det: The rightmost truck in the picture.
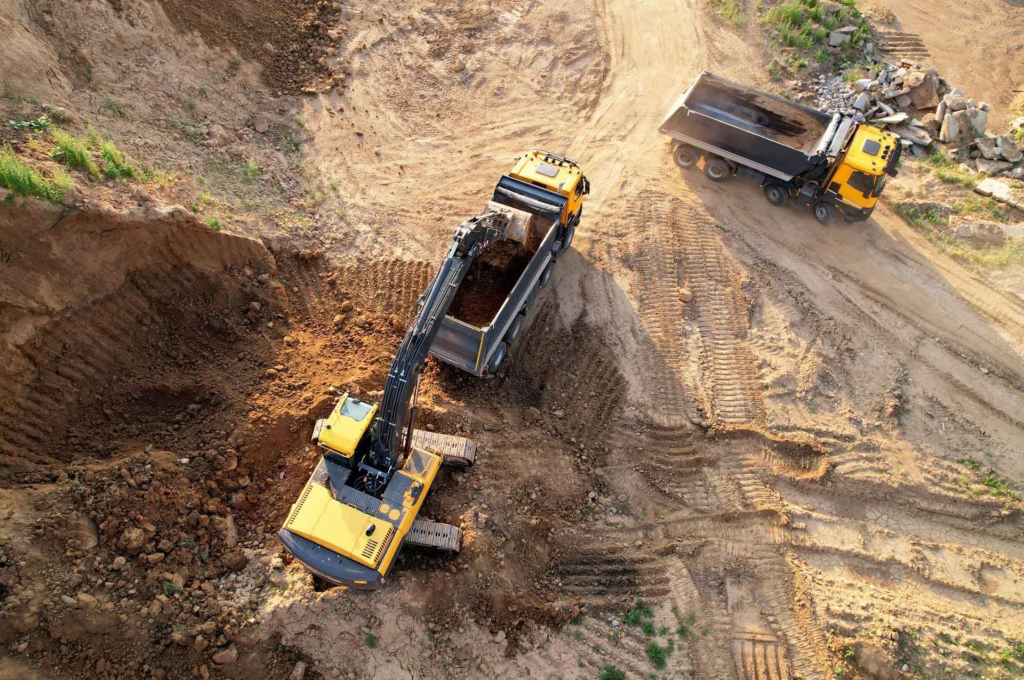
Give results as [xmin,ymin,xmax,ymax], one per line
[655,66,903,229]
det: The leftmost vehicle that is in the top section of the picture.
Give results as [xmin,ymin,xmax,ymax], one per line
[416,150,594,378]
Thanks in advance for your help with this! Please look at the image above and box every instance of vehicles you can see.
[655,66,903,229]
[416,150,594,378]
[283,199,530,594]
